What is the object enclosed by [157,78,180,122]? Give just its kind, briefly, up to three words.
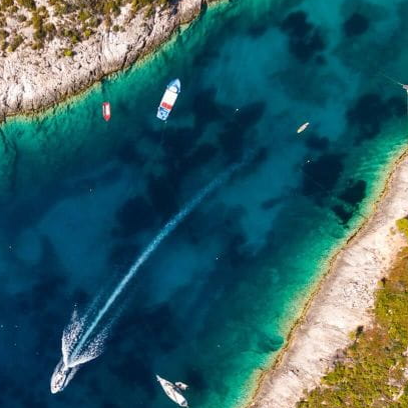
boat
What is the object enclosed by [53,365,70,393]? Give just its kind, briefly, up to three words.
boat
